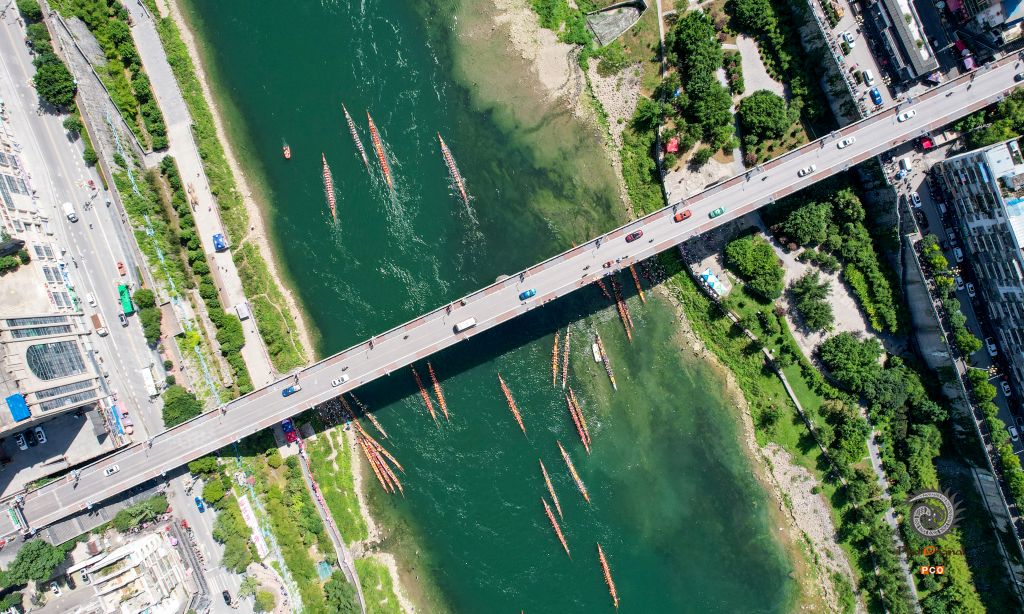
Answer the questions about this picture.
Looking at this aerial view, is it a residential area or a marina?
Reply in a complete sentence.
What you see here is a marina.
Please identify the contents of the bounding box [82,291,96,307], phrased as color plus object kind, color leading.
white vehicle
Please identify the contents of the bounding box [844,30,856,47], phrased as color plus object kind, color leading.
white vehicle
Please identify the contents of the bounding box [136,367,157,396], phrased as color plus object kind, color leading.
white bus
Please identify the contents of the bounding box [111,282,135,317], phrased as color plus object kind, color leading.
green truck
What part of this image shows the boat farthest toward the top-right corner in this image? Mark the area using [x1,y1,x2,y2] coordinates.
[629,263,646,304]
